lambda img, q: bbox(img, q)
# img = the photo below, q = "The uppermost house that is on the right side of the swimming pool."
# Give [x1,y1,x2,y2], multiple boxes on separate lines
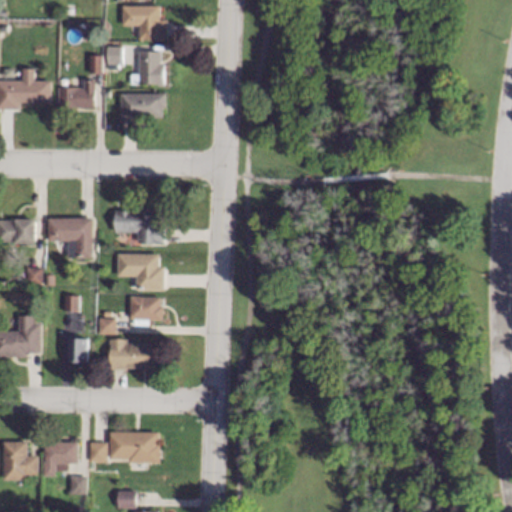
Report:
[122,6,163,42]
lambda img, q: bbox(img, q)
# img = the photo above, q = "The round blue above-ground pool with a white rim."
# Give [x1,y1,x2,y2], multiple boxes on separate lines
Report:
[66,28,86,45]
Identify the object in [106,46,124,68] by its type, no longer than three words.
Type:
building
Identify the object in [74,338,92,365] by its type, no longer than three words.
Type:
building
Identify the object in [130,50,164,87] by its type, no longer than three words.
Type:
house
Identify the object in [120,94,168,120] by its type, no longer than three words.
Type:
house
